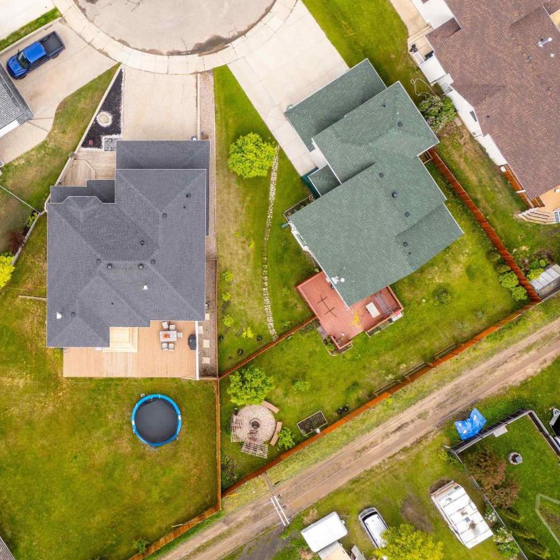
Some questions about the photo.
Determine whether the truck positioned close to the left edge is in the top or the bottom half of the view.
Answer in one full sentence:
The truck positioned close to the left edge sits in the top half of the picture.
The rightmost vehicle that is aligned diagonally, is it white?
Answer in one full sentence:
Yes, white is the color of the rightmost vehicle that is aligned diagonally.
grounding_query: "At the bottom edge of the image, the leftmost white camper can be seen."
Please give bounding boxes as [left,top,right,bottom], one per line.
[296,506,349,551]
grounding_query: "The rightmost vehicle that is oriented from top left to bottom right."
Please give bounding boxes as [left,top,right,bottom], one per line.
[419,474,493,548]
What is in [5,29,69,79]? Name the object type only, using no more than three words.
truck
